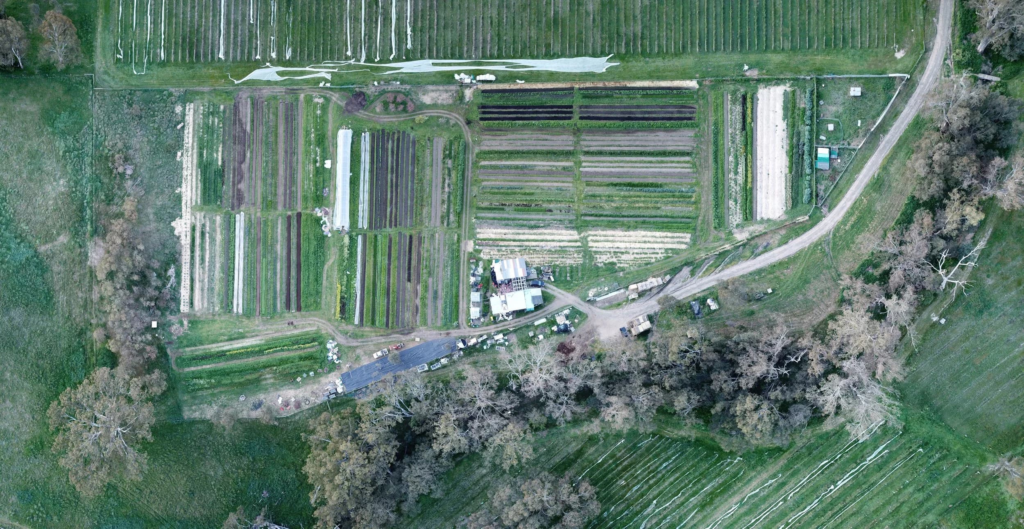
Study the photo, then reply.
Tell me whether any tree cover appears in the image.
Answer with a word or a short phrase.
Yes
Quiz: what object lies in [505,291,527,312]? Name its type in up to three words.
shed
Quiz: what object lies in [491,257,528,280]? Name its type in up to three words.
shed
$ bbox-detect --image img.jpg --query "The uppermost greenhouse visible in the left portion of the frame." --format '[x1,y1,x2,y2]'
[334,129,352,229]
